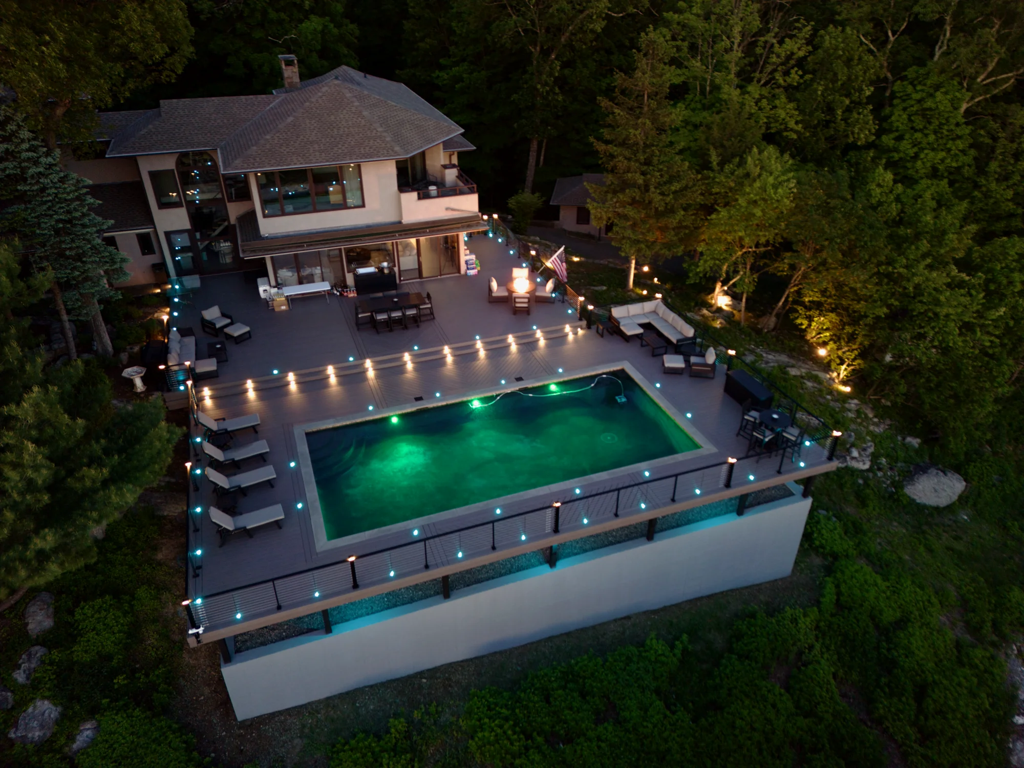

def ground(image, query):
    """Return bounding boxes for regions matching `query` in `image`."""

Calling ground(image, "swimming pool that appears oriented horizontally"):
[294,361,718,551]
